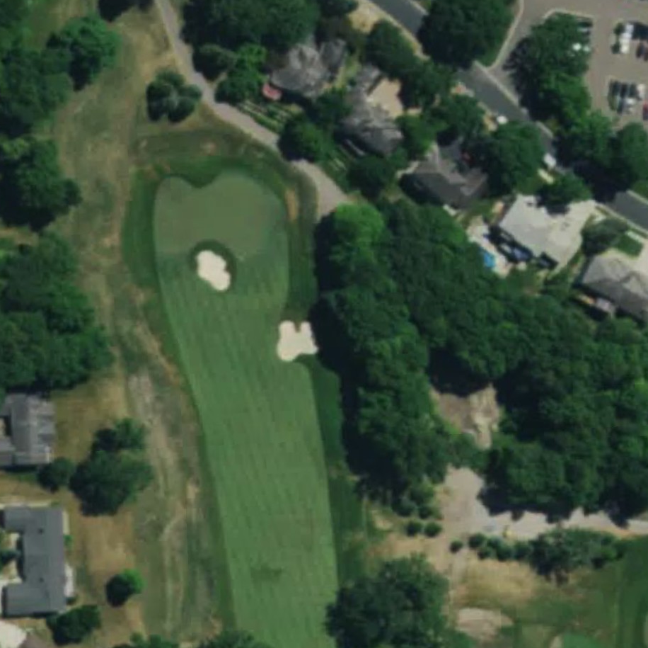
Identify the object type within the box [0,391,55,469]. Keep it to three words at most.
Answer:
house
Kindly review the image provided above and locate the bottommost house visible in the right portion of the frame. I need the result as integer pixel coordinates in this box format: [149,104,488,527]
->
[578,247,648,320]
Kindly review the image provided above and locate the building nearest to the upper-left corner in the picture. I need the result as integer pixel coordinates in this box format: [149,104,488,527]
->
[269,31,351,97]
